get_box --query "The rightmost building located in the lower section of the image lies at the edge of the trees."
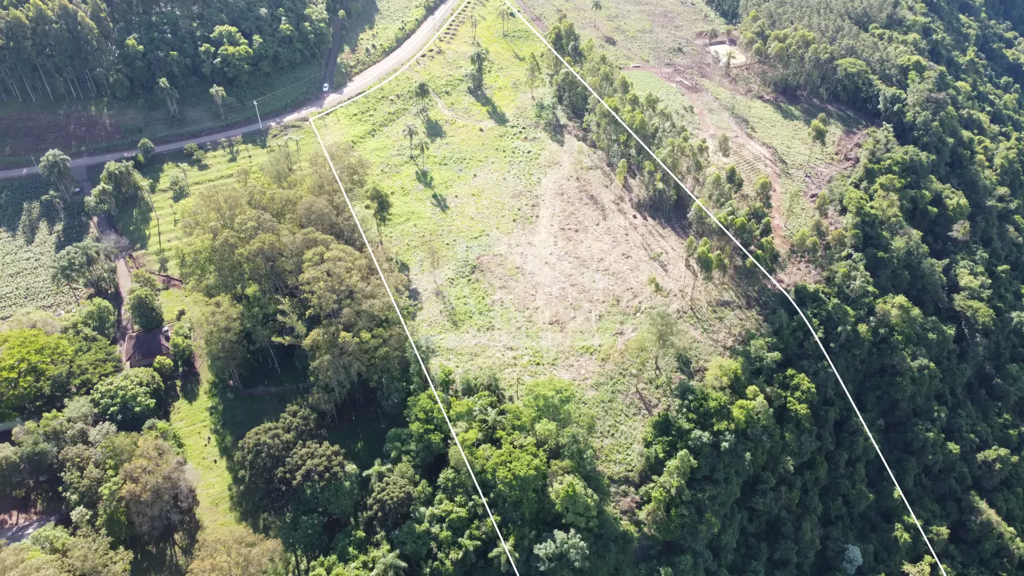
[125,329,177,377]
